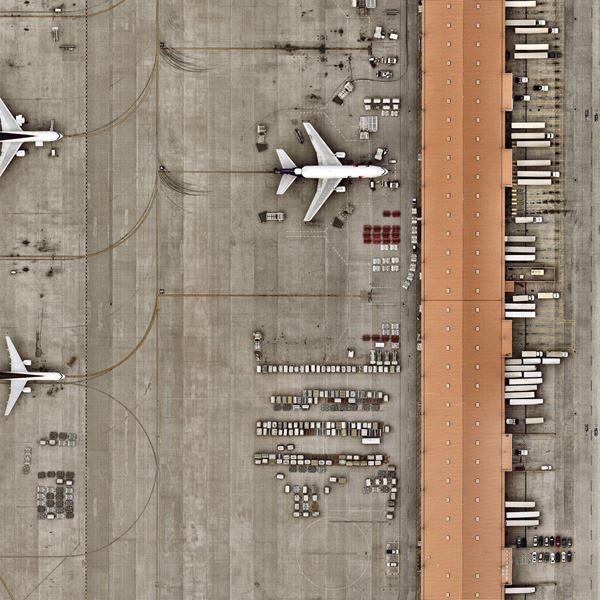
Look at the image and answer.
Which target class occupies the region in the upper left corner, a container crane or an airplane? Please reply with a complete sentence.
It is an airplane that can be seen in the upper left corner.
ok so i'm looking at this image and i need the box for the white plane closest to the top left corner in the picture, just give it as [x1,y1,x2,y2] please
[0,100,63,172]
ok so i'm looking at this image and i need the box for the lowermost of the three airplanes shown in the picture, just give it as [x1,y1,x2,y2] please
[0,336,65,416]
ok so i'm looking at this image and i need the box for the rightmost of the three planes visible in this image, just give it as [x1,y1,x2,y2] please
[274,122,388,221]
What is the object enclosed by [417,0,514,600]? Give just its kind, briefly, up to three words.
building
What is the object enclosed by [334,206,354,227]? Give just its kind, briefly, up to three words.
work vehicle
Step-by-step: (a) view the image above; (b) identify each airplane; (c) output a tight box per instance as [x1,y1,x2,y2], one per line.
[274,122,388,221]
[0,336,65,416]
[0,100,63,172]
